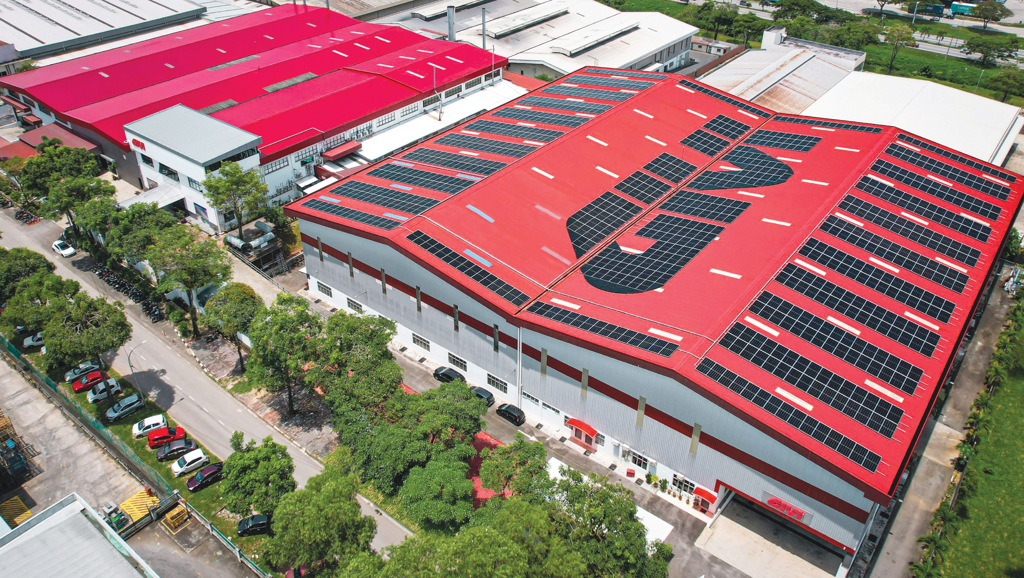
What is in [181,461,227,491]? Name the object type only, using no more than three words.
car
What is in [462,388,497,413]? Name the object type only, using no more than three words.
car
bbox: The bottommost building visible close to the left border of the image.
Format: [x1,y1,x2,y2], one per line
[0,492,155,578]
